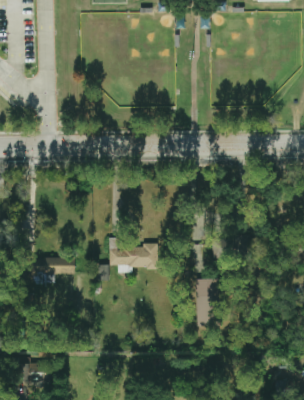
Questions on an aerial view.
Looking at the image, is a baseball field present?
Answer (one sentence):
Yes, a baseball field appears in the view.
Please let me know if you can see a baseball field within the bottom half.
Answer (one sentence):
No, within the bottom half there is no baseball field.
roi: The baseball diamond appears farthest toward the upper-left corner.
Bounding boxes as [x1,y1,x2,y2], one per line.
[80,12,176,106]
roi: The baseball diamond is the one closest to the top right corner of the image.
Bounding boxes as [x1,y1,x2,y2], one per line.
[210,12,301,106]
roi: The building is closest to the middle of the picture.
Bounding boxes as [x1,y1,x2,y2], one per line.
[108,238,158,273]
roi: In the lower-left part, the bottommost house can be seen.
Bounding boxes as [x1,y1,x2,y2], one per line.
[22,364,45,388]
